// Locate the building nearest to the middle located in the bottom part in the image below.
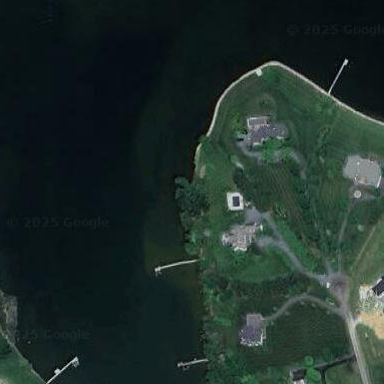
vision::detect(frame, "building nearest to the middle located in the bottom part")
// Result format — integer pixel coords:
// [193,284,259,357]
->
[222,222,258,252]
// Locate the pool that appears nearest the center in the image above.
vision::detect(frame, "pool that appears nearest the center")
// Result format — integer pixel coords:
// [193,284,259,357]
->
[227,192,243,210]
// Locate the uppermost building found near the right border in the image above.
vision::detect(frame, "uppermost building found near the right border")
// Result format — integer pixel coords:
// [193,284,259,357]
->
[340,155,384,187]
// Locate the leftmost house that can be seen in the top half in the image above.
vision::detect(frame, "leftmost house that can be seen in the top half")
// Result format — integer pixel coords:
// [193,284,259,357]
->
[247,115,287,146]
